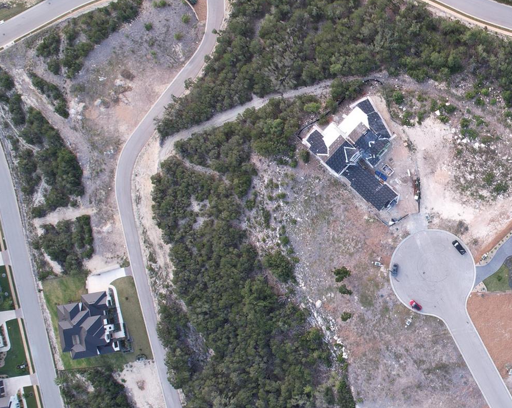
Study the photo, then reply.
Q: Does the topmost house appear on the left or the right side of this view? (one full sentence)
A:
The topmost house is on the right side of the image.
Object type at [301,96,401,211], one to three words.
house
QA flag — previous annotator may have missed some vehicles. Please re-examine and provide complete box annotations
[391,262,399,277]
[451,239,466,256]
[408,300,424,313]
